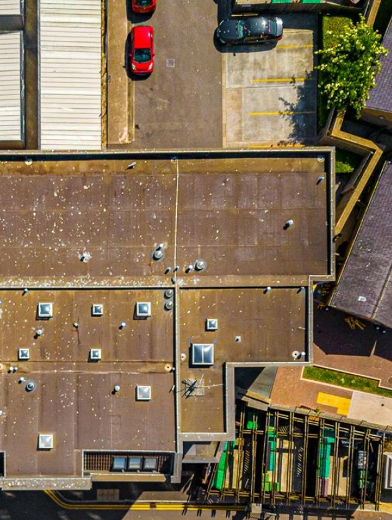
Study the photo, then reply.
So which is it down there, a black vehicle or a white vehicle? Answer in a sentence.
Visible in the photo is a black vehicle.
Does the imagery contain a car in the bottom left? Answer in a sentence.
No, I can find no car in the bottom left.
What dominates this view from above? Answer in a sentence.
For the most part, this view shows buildings.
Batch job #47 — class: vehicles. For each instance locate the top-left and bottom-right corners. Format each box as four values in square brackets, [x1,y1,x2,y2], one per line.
[213,14,282,48]
[127,26,156,78]
[131,0,156,15]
